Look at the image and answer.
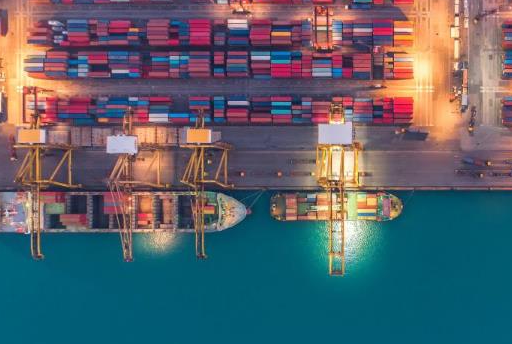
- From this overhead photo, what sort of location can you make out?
port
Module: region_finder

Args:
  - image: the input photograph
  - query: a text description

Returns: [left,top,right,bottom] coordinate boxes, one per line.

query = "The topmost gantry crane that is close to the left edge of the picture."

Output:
[22,85,62,129]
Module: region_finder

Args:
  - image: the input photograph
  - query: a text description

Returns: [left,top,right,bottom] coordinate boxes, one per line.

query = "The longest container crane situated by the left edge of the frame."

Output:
[11,110,90,260]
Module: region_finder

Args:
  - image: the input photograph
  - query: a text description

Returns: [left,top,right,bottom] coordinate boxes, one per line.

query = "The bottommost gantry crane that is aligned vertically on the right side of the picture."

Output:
[316,99,368,281]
